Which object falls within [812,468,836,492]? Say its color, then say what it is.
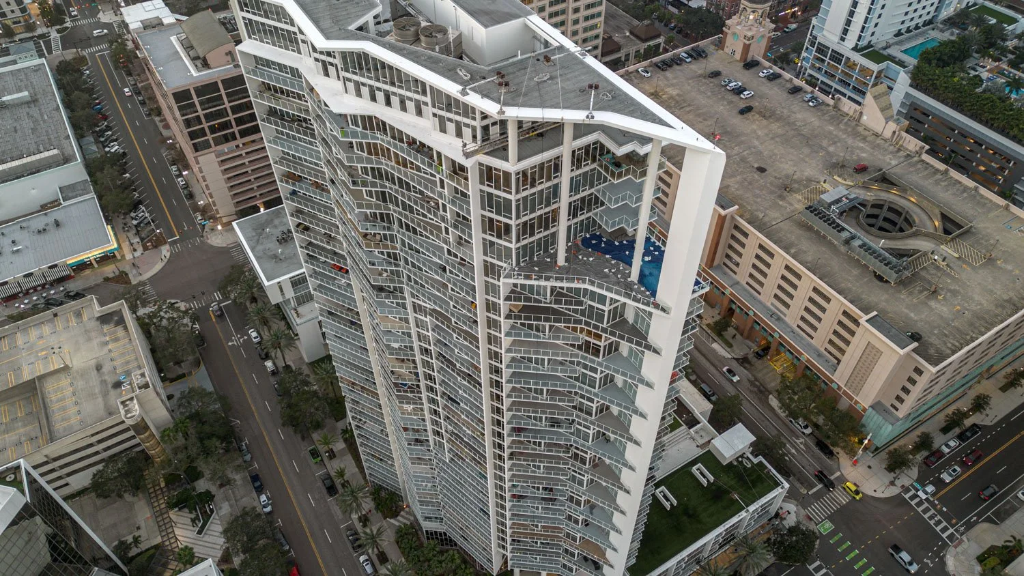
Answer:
black car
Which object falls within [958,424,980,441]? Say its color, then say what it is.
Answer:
black car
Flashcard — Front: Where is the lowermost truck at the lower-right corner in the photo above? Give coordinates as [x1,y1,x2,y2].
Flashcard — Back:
[891,542,917,574]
